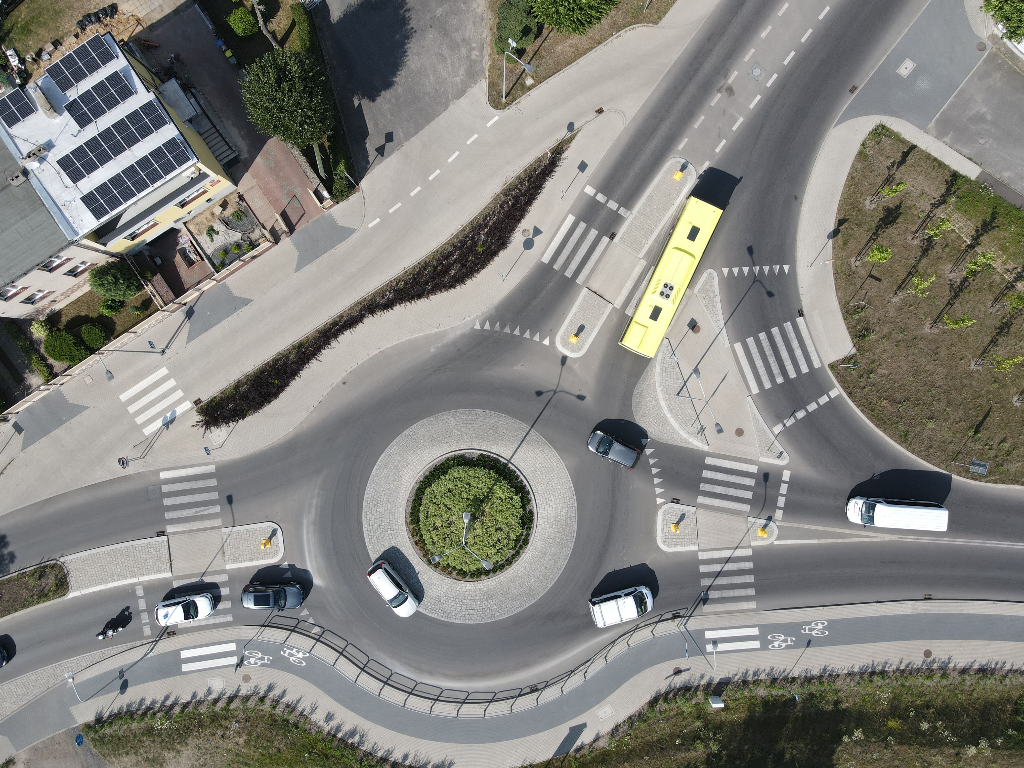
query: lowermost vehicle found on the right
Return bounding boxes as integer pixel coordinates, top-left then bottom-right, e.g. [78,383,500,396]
[592,585,653,625]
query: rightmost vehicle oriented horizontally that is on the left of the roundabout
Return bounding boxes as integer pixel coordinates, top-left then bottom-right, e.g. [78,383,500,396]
[239,580,307,613]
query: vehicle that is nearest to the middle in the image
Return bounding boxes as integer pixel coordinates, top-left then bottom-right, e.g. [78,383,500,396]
[584,429,644,472]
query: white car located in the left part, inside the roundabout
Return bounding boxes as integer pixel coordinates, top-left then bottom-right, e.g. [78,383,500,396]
[367,561,416,619]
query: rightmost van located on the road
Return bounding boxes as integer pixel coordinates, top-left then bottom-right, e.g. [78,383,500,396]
[846,497,946,531]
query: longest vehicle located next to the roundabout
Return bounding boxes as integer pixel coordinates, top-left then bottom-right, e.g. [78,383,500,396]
[613,191,726,359]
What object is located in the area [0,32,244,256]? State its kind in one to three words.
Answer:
house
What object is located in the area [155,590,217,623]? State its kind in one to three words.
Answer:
car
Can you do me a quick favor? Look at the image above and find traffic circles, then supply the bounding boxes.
[304,351,635,681]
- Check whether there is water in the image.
No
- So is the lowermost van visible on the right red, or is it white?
white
